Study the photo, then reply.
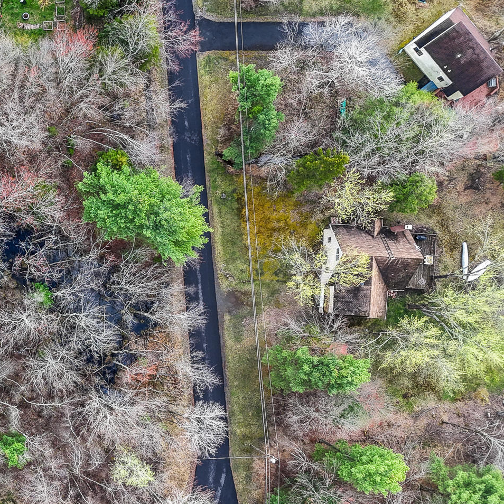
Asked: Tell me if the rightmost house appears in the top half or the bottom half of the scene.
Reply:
top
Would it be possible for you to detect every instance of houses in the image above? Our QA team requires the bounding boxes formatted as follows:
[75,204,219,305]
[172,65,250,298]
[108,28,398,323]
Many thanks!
[405,6,504,108]
[317,222,441,320]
